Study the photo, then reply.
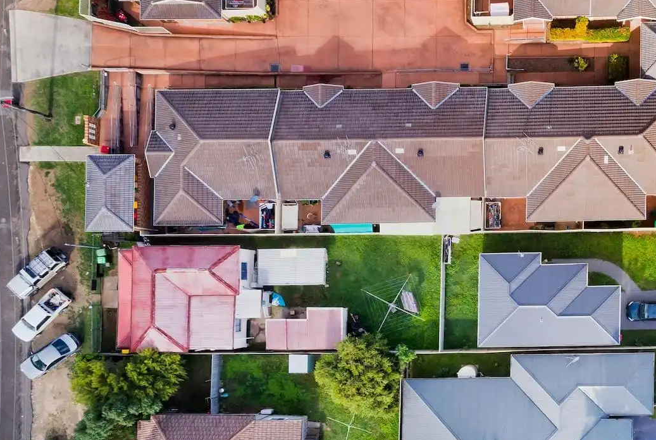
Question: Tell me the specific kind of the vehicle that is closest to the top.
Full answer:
In the photo, the vehicle that is closest to the top shows up as a car.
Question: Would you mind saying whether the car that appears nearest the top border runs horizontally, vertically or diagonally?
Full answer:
The car that appears nearest the top border runs diagonally in the image.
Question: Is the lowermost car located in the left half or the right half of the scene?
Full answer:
The lowermost car is on the left side of the image.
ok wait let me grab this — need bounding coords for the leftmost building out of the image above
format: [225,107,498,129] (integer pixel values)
[83,153,142,233]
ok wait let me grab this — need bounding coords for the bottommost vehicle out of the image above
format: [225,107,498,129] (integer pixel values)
[23,333,81,379]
